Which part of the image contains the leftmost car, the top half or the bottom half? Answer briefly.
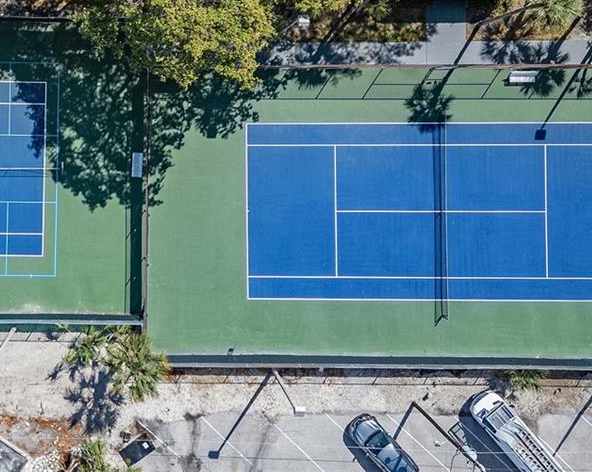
bottom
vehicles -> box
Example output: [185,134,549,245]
[347,412,413,472]
[470,389,560,472]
